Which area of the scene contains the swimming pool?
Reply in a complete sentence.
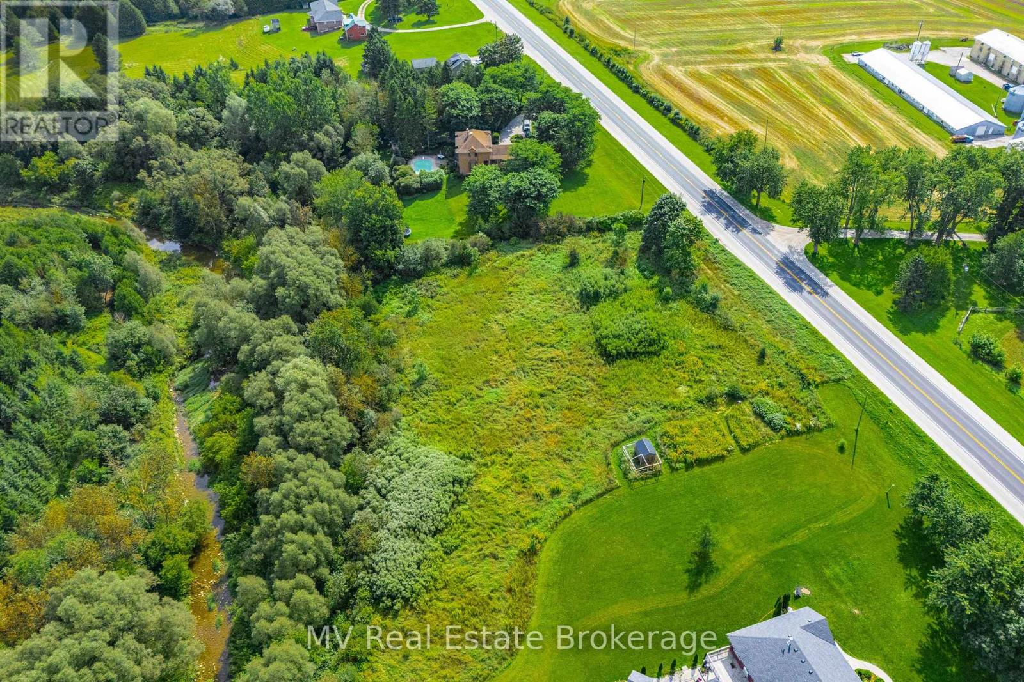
The swimming pool appears toward the top of the photo.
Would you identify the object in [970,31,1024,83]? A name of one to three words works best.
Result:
barn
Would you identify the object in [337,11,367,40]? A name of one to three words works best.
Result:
building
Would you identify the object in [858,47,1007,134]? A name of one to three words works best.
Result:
barn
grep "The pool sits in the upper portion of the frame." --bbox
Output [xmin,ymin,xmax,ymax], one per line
[406,153,442,175]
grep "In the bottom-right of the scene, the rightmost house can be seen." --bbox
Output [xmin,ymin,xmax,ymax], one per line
[706,607,861,682]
